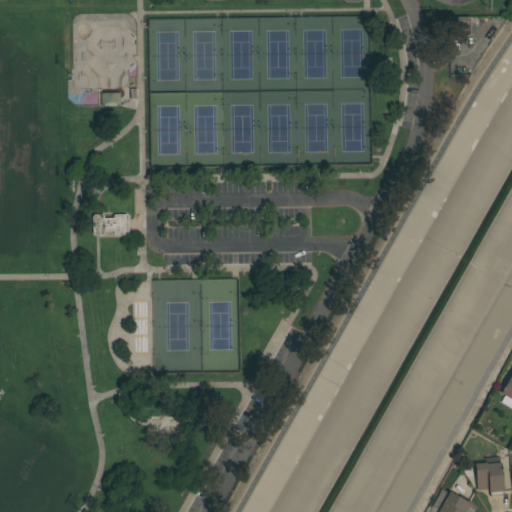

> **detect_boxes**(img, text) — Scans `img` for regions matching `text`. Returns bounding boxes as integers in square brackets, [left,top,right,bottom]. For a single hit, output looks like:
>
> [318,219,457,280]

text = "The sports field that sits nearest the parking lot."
[0,12,66,271]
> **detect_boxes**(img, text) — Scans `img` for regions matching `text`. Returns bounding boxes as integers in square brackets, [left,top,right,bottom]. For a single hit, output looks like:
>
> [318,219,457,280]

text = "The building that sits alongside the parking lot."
[93,212,130,236]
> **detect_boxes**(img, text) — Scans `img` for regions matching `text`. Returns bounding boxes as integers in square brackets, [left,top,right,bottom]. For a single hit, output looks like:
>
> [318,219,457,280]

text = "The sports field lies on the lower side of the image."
[0,412,92,512]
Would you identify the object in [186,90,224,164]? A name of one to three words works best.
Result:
tennis court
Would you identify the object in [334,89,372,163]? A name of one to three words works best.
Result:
tennis court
